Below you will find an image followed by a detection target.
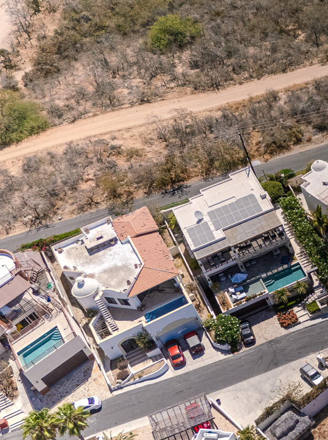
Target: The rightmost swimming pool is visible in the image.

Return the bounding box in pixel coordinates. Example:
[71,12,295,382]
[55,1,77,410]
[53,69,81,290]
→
[259,261,309,295]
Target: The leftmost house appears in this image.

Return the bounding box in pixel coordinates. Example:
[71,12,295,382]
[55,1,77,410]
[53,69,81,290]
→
[0,249,93,390]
